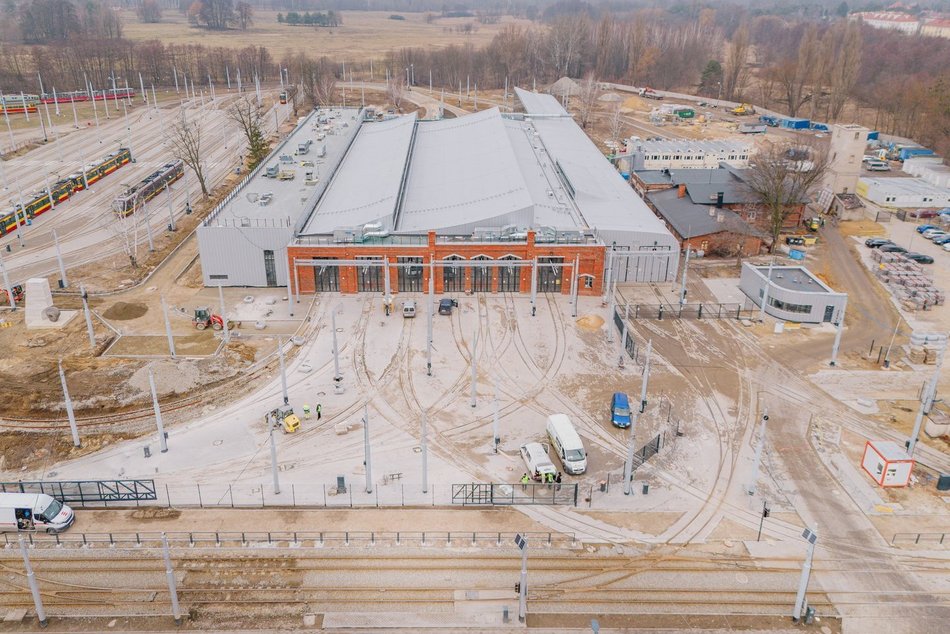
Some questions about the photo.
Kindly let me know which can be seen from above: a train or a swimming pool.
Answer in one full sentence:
Visible in the photo is a train.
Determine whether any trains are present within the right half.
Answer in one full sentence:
No, looking within the right half, there is no train.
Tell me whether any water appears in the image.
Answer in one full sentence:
No, no water is visible.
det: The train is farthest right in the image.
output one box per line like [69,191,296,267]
[279,83,296,102]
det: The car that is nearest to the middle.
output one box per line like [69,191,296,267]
[437,296,458,313]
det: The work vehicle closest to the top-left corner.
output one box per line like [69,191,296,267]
[0,278,33,303]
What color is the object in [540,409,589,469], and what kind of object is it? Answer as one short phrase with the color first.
white van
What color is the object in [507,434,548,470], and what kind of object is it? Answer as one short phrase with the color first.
white car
